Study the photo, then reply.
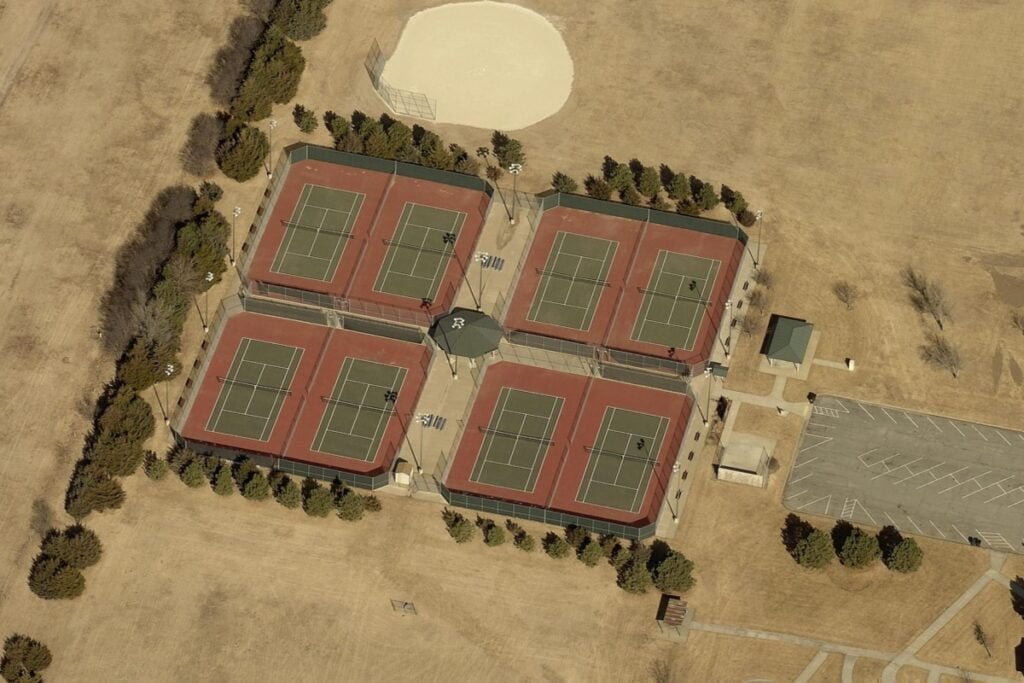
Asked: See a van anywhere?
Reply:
No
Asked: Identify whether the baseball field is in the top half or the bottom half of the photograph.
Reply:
top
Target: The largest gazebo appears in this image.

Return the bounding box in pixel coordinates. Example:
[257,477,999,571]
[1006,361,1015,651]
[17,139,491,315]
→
[435,310,504,366]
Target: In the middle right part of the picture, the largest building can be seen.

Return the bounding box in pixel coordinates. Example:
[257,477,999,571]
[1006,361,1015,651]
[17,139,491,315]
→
[767,317,814,371]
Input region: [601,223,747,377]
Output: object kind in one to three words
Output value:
tennis court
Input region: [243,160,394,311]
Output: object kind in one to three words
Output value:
tennis court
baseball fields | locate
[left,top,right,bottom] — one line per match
[377,0,573,131]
